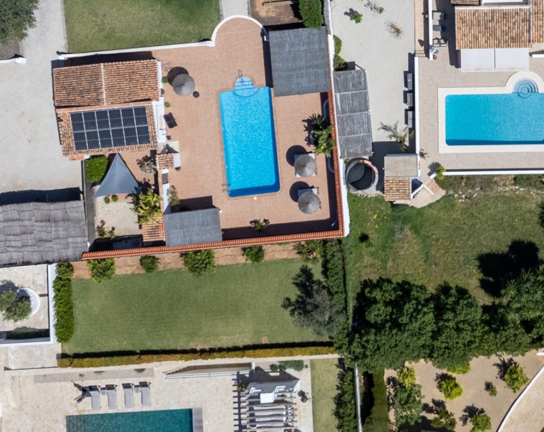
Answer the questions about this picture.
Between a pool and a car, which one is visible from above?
pool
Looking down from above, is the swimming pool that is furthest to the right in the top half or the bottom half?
top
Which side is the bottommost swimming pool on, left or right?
left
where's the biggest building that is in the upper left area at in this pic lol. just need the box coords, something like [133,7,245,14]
[53,59,168,161]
